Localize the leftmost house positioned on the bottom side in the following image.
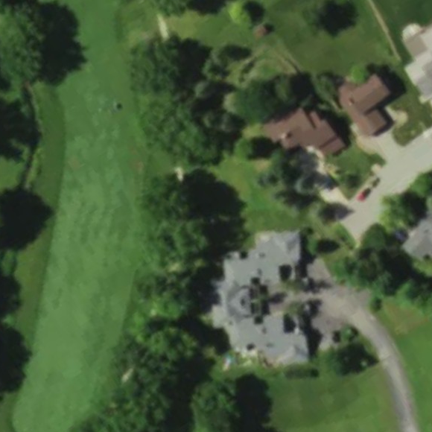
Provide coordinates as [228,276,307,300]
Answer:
[218,231,310,364]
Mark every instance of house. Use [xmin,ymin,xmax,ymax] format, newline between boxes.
[339,73,391,136]
[265,107,346,157]
[404,23,432,99]
[408,212,432,261]
[218,231,310,364]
